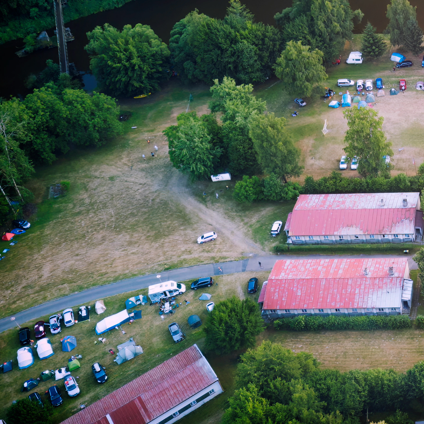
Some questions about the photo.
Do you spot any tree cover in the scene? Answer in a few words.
Yes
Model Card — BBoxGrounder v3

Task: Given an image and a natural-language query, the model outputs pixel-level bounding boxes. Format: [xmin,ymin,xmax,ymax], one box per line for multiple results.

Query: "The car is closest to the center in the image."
[195,230,218,245]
